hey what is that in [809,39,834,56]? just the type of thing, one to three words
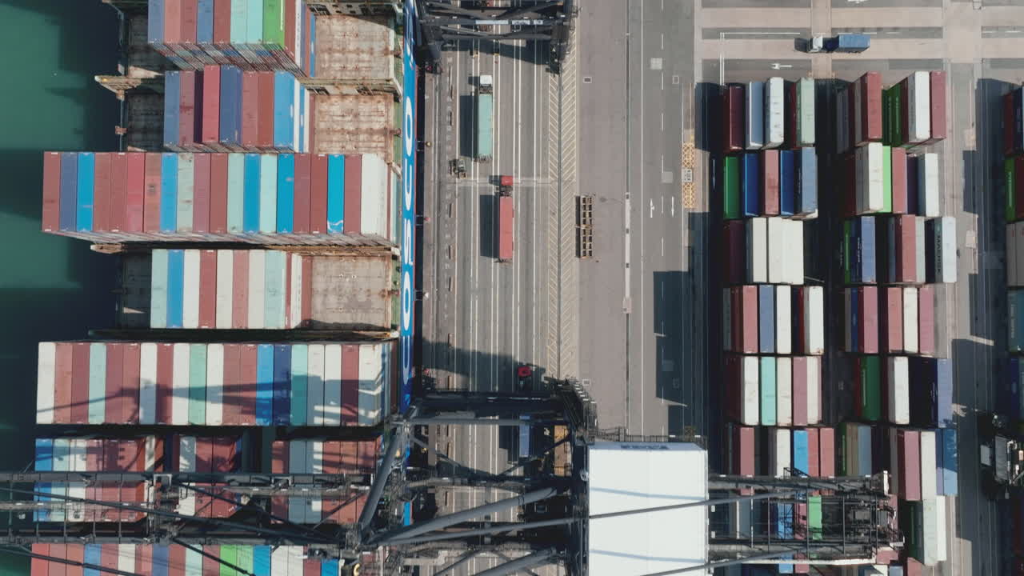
vehicle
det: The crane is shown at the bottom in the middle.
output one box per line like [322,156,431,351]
[0,354,921,576]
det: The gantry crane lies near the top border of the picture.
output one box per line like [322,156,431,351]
[419,0,577,87]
